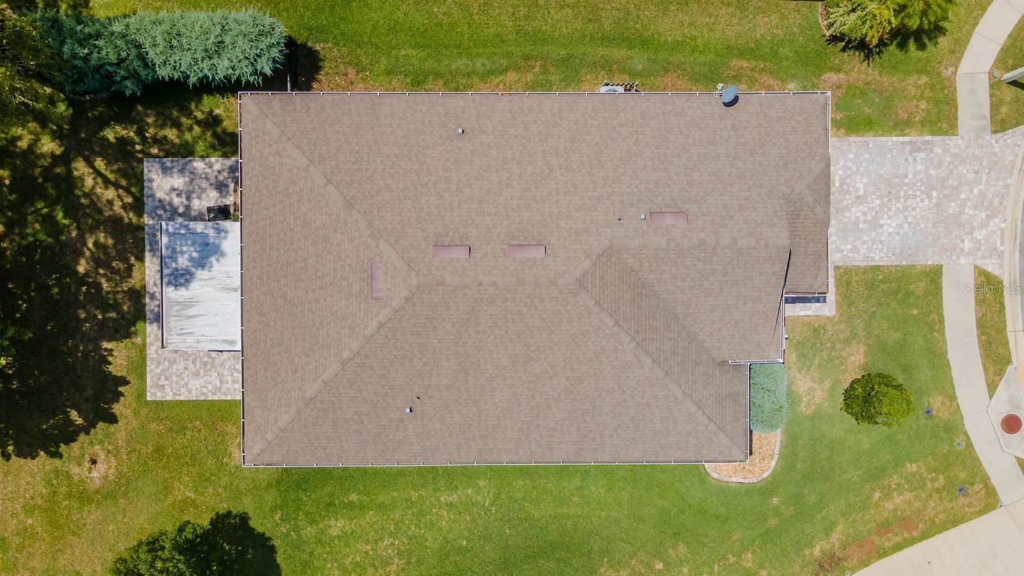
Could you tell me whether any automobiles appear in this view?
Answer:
No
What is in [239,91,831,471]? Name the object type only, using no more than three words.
house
